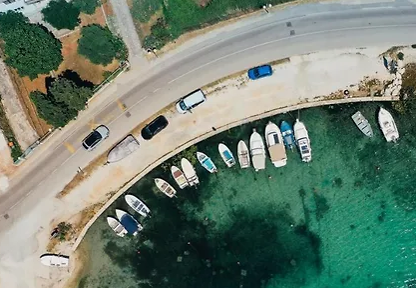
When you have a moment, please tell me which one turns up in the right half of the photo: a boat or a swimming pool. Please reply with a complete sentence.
The feature located in the right half of the photo is a boat.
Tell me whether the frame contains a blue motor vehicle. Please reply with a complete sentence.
Yes, looking at the shot, I can spot a blue motor vehicle.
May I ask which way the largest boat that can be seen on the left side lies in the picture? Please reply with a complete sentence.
What the image shows is the largest boat that can be seen on the left side lying on a diagonal.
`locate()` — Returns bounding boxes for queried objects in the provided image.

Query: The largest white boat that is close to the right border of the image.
[380,100,400,146]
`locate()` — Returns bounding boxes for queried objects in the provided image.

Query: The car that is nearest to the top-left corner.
[81,122,112,150]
